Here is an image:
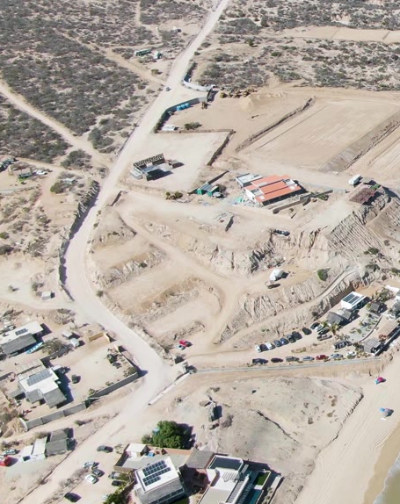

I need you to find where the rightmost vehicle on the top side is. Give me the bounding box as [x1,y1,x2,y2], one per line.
[347,172,364,188]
